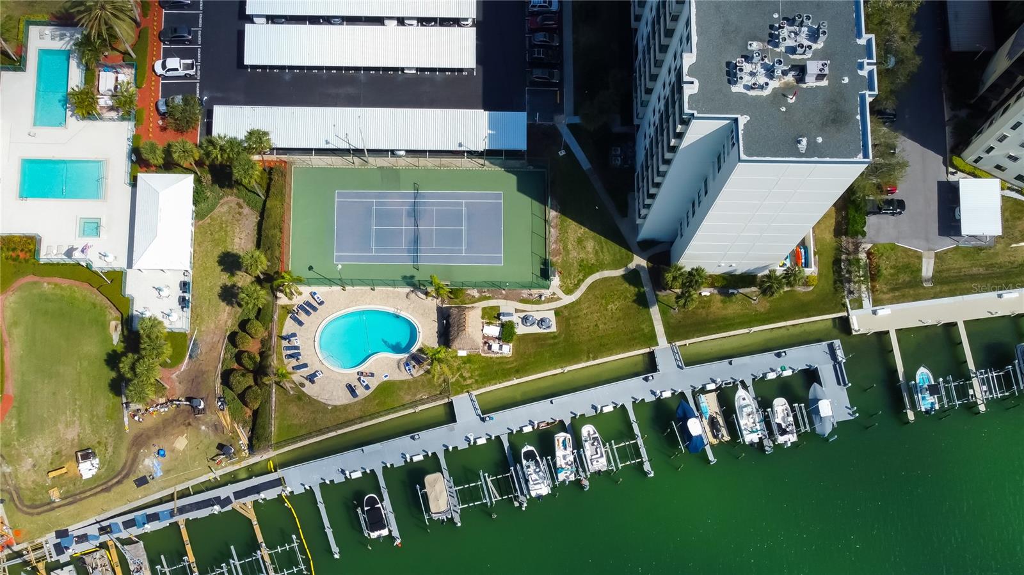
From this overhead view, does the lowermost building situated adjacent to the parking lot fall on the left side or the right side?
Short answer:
left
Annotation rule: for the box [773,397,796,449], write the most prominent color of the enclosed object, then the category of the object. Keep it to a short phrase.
white boat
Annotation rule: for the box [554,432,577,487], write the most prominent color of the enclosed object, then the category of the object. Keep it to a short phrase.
white boat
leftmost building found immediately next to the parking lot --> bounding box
[132,173,196,276]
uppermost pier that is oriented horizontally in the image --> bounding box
[847,287,1024,335]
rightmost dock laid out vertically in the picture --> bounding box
[954,321,985,413]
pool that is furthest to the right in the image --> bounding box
[316,306,422,373]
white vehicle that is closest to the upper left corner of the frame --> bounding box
[154,58,196,76]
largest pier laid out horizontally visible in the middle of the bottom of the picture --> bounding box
[48,339,859,564]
